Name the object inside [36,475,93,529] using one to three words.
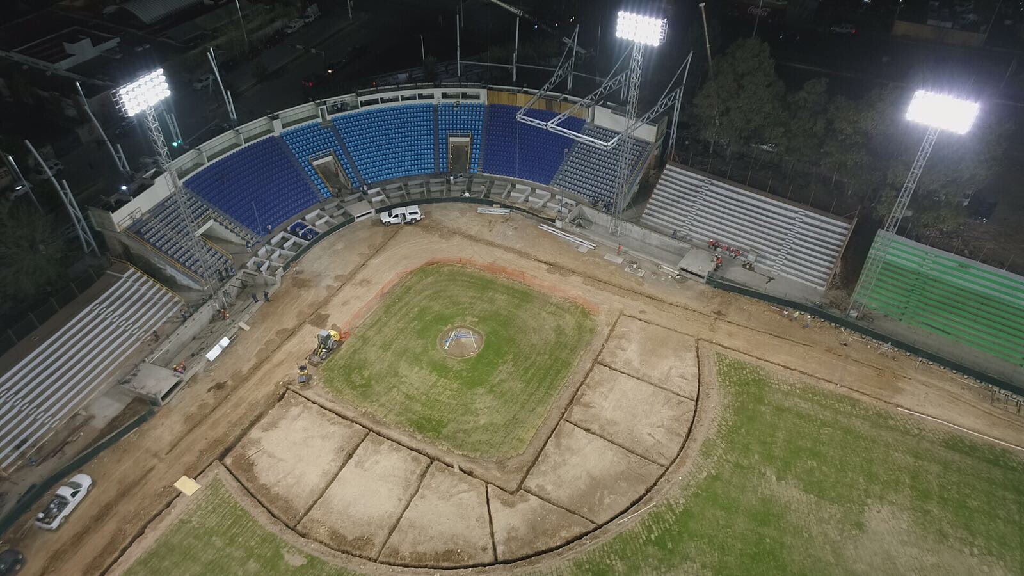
truck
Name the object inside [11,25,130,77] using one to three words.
house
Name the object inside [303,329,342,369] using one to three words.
work vehicle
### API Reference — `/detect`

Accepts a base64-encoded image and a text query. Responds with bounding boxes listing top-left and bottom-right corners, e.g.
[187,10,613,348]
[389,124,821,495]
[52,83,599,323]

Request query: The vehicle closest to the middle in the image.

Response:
[378,202,421,225]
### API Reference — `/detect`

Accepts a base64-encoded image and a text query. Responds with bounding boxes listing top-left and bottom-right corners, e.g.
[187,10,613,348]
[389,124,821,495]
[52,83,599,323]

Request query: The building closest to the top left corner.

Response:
[0,1,61,45]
